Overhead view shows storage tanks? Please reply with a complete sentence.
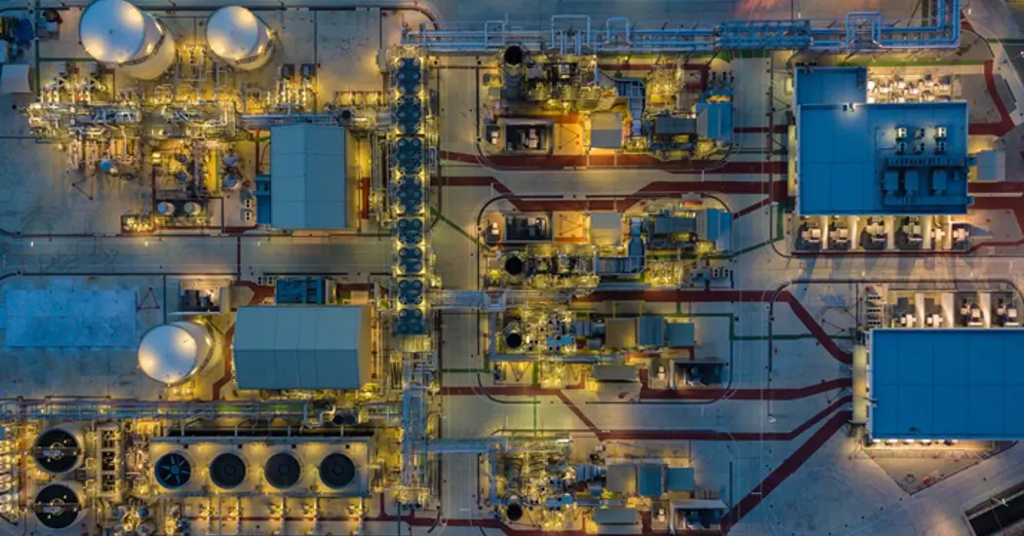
Yes, a storage tank is visible in the scene.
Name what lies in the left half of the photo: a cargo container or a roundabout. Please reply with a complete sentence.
It is a cargo container that can be seen in the left half of the photo.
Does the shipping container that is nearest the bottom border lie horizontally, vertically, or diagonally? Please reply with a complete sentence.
The shipping container that is nearest the bottom border is oriented horizontally.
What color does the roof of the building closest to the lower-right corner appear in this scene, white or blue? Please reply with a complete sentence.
In this view, the roof of the building closest to the lower-right corner is blue.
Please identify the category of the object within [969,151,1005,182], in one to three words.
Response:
shed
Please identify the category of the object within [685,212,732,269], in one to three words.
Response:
house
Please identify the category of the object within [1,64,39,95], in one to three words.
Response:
shed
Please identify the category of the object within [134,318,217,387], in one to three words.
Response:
storage tank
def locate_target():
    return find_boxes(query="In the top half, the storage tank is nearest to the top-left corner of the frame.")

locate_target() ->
[79,0,180,83]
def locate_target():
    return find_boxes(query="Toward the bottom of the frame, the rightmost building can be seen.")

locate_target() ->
[862,328,1024,440]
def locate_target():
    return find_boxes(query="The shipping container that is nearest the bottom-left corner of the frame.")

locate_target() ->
[277,278,339,303]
